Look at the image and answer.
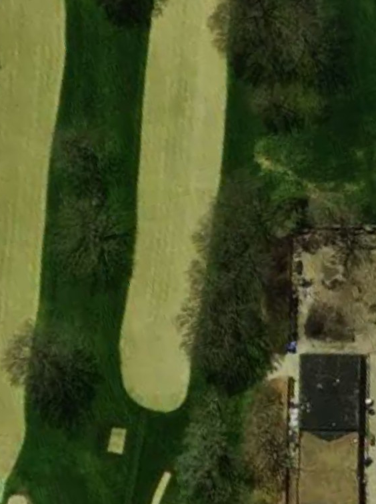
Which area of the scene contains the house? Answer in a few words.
bottom right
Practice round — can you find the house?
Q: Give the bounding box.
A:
[299,354,359,504]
